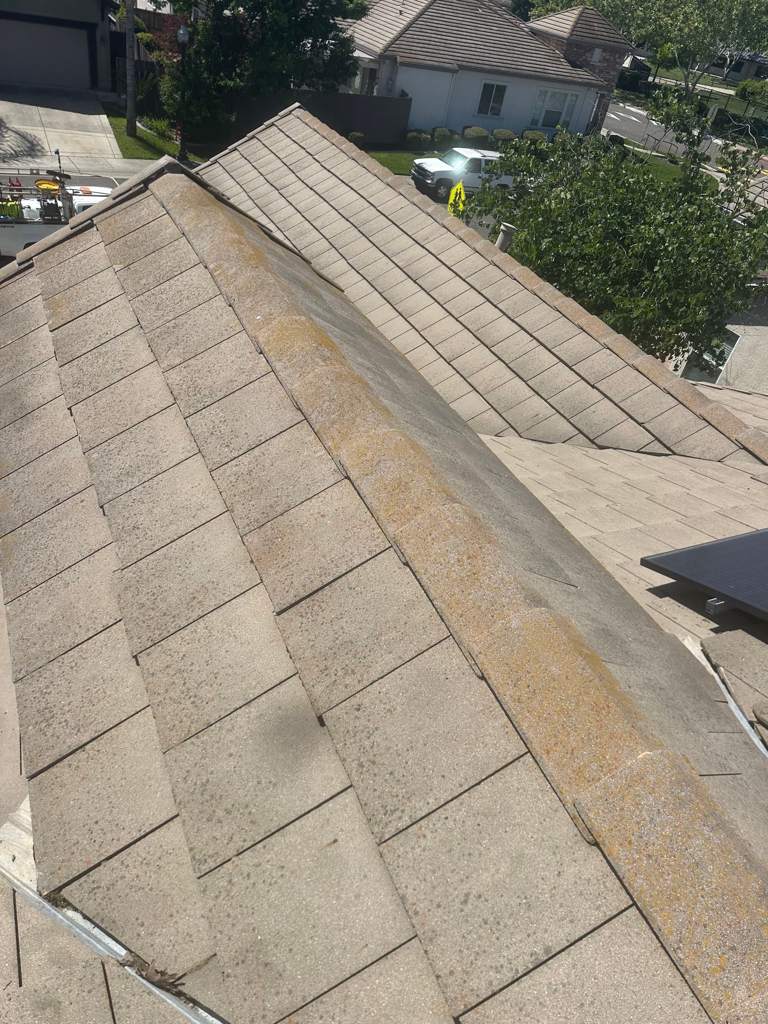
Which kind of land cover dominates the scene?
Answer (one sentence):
The scene is dominated by buildings.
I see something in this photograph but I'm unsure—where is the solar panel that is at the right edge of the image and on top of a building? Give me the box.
[632,526,768,623]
